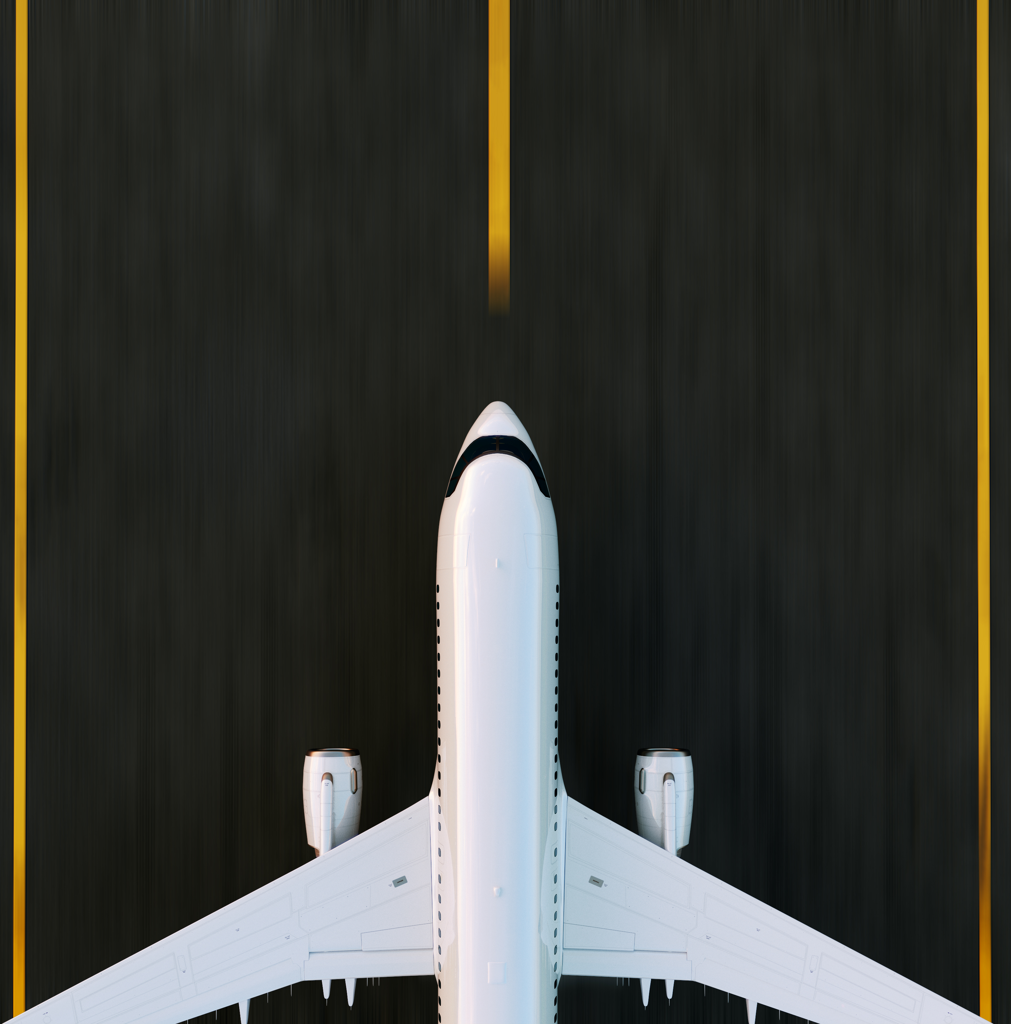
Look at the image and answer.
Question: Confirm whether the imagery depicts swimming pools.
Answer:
No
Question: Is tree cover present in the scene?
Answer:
No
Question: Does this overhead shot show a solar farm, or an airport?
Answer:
airport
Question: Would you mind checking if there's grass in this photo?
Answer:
No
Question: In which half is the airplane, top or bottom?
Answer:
bottom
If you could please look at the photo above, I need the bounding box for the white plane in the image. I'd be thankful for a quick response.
[1,401,994,1024]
